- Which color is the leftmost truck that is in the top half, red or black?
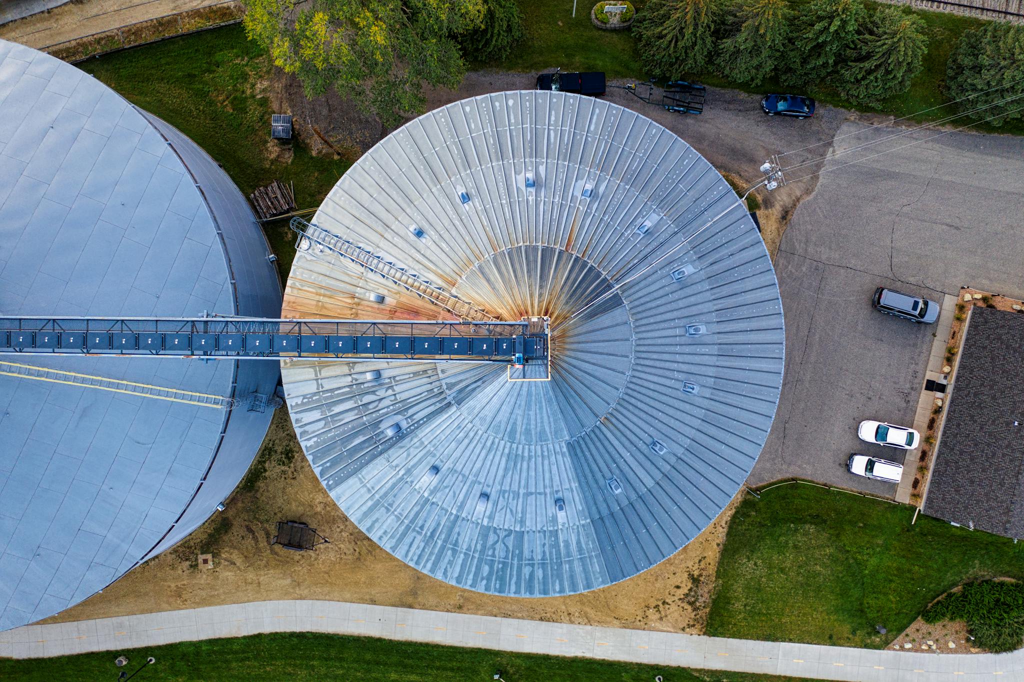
black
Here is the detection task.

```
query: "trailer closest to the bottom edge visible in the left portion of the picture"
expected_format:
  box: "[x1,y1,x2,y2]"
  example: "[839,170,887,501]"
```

[272,518,330,552]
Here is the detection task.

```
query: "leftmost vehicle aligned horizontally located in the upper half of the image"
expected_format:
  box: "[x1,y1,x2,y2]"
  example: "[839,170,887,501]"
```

[536,61,607,98]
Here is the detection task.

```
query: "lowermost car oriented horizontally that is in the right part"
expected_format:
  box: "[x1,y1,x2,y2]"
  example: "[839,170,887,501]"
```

[844,451,906,484]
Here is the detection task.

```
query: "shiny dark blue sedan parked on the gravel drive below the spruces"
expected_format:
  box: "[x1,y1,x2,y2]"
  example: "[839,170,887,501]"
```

[759,91,816,121]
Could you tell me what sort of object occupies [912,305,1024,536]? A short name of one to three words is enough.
house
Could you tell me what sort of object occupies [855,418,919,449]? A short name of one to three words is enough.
car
